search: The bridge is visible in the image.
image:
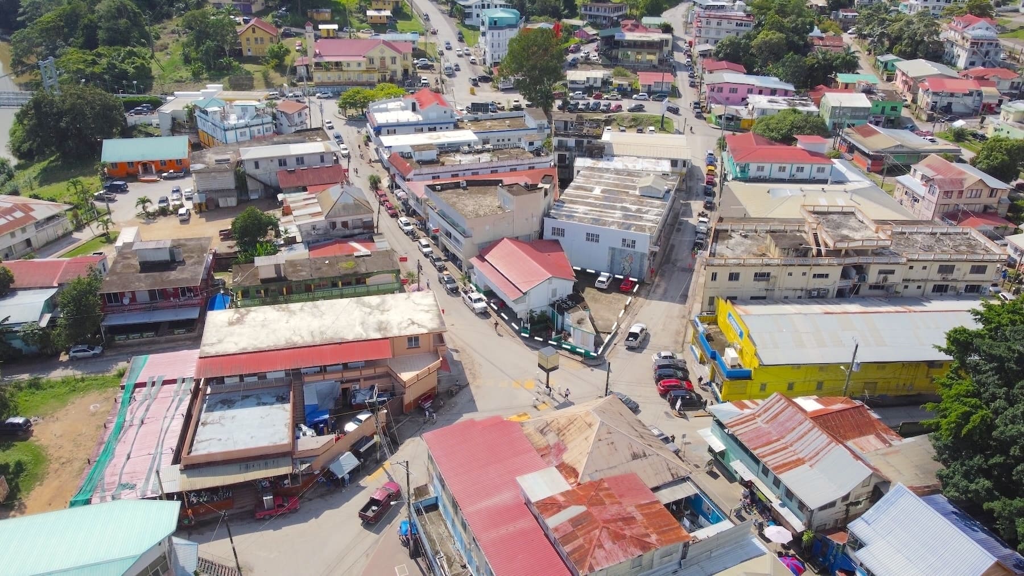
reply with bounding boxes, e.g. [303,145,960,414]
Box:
[0,60,166,116]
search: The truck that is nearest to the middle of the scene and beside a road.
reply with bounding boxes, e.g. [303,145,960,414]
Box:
[462,288,487,311]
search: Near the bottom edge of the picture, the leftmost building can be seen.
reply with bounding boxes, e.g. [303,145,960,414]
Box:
[0,500,181,576]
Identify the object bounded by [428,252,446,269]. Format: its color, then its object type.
gray car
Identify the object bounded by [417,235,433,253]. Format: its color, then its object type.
white vehicle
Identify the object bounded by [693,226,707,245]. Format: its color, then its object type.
gray vehicle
